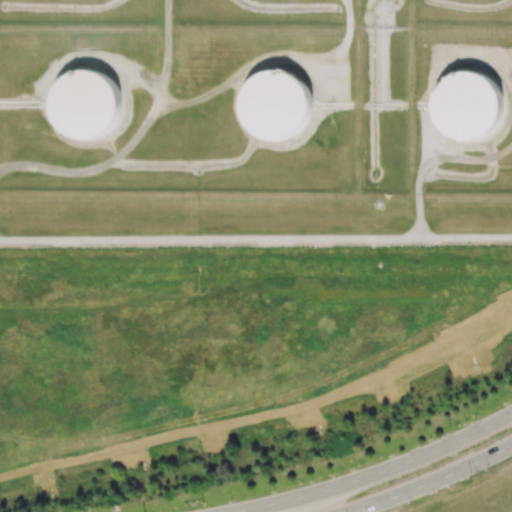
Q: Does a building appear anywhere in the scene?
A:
No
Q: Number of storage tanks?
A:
3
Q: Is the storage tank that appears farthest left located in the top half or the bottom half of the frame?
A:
top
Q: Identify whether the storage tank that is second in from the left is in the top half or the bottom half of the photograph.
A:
top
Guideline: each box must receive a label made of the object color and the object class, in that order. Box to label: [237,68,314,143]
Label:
white storage tank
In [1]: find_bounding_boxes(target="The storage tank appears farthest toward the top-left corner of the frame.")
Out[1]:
[47,68,123,142]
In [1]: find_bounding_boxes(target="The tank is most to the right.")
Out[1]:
[429,69,506,144]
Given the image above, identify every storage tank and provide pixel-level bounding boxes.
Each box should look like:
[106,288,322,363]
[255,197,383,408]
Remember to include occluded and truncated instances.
[47,68,123,142]
[237,68,314,143]
[429,69,506,144]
